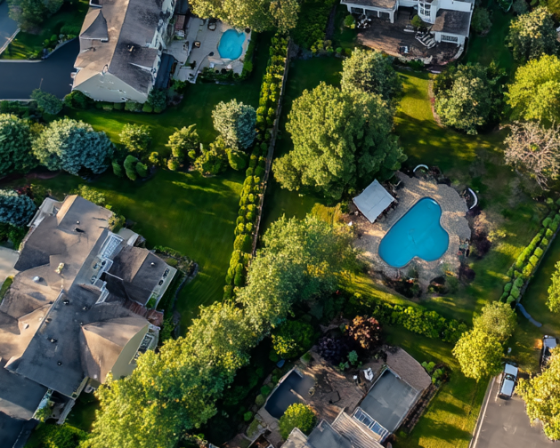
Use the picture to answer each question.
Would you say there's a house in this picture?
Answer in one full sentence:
Yes, the frame does contain a house.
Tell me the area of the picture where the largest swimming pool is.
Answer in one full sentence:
You can find the largest swimming pool in the right area of the picture.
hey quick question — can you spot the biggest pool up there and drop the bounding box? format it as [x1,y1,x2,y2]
[375,194,452,271]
